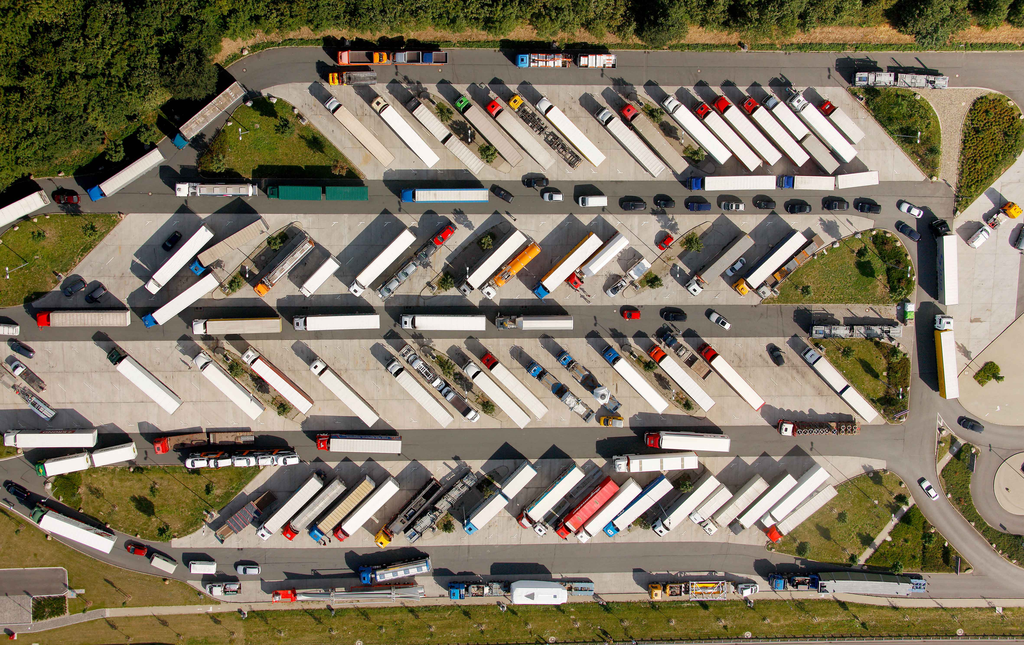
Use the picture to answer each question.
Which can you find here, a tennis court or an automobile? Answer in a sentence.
I can see an automobile in this picture.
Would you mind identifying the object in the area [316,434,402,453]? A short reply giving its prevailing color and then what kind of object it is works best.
white vehicle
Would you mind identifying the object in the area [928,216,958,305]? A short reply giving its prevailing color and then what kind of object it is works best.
white truck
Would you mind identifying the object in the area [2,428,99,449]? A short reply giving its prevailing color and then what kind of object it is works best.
white truck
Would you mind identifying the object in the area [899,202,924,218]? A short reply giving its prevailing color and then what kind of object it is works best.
white car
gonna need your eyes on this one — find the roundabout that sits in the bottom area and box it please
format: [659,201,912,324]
[997,454,1024,516]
